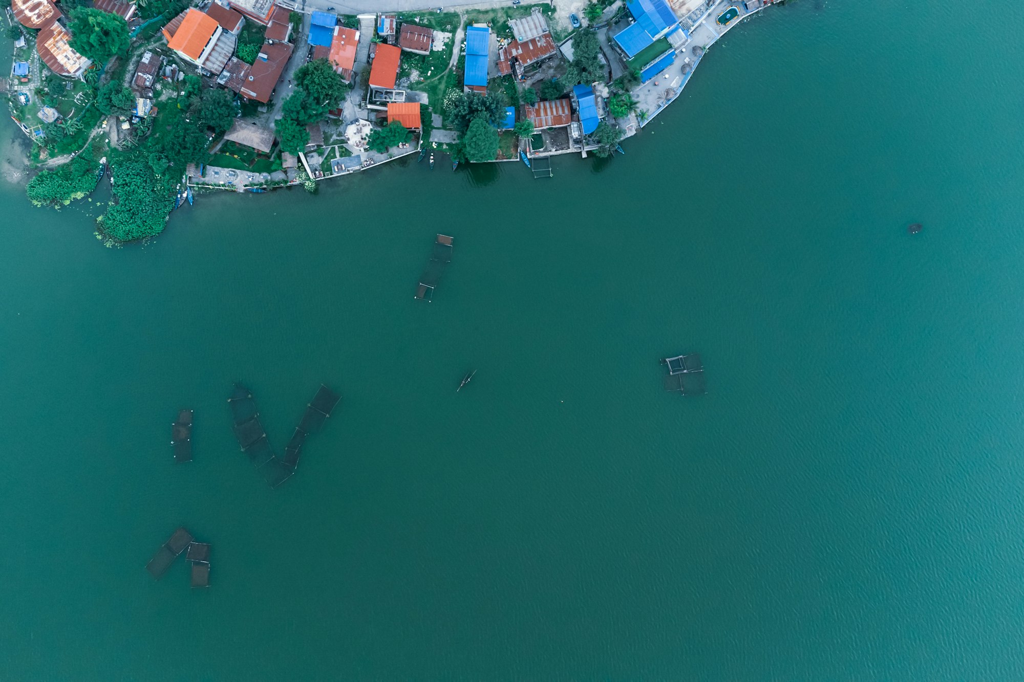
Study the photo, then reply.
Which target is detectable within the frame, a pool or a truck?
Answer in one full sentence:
Looking from above, you can make out a pool.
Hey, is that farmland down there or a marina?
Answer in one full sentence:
The area seen from above is a marina.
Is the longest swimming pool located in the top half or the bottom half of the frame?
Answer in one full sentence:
It is in the top half that the longest swimming pool appears.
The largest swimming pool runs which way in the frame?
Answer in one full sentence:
In this picture, the largest swimming pool lies at an angle.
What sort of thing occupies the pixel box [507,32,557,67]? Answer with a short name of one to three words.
house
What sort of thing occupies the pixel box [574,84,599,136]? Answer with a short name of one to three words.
house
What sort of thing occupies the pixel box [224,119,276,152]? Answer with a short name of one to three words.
building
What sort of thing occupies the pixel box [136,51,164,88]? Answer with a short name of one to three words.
shed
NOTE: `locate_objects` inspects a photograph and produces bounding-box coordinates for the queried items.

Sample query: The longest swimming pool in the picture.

[715,3,741,27]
